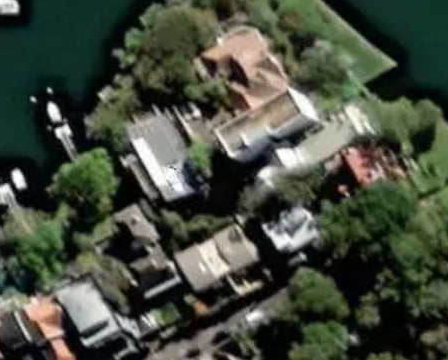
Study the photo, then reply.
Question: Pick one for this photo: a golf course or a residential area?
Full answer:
This image shows a residential area.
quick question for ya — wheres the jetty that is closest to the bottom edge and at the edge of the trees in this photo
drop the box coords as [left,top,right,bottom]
[0,184,25,222]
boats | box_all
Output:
[12,169,26,191]
[48,102,62,123]
[0,0,18,13]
